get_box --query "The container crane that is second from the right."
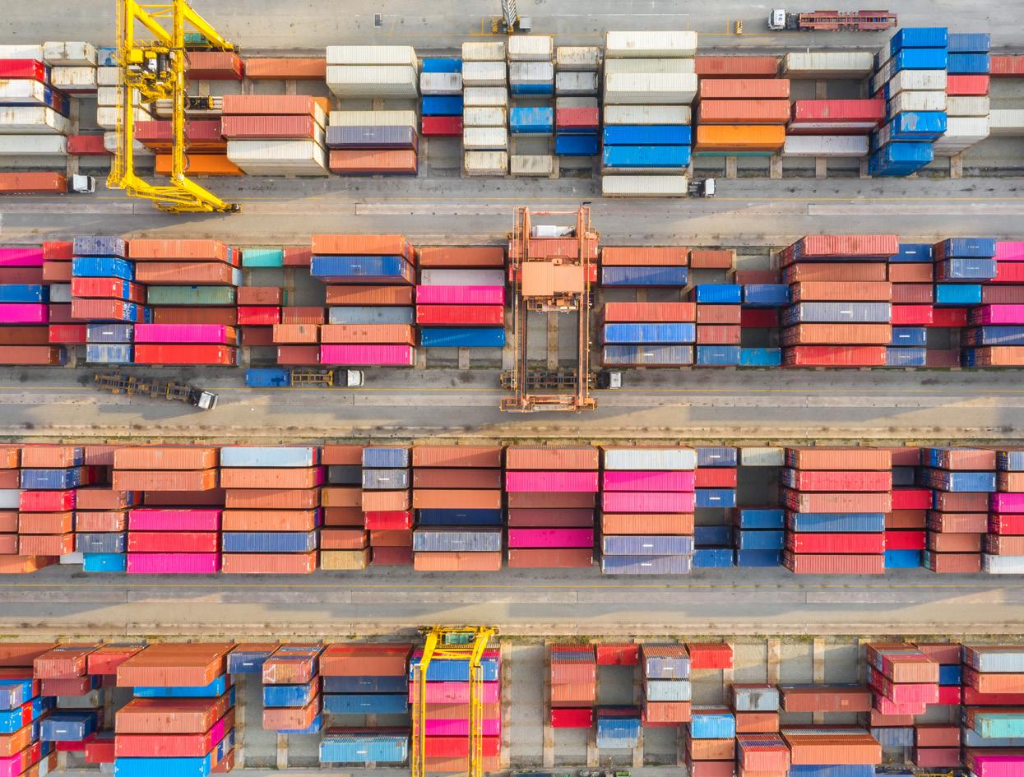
[412,625,501,777]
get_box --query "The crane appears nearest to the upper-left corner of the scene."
[105,0,244,214]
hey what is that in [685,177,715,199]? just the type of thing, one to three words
truck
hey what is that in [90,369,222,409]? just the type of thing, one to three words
truck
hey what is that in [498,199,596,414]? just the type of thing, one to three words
container crane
